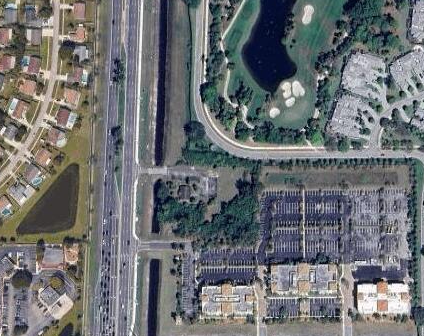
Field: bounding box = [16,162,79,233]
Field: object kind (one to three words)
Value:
pond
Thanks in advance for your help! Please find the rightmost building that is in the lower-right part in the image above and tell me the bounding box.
[357,282,410,314]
